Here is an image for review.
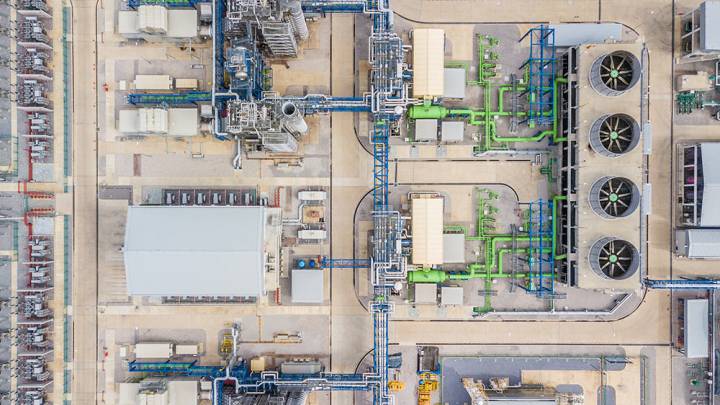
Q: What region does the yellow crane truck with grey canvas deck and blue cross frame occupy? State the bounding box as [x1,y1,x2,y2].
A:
[416,344,441,405]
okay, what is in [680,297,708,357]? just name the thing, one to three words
building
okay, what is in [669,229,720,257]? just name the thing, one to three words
shed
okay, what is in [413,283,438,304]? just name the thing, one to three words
house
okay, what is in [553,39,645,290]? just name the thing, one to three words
cooling tower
